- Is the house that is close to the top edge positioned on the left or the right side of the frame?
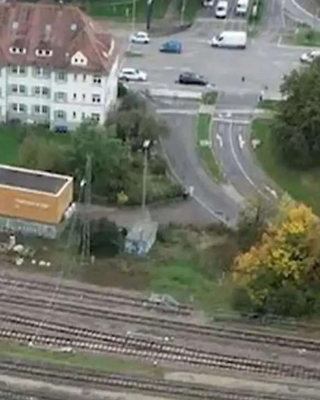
left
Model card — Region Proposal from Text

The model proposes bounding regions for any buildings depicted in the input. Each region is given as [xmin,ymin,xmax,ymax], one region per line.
[126,214,165,257]
[0,0,121,129]
[0,166,68,238]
